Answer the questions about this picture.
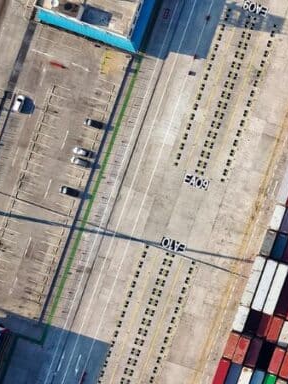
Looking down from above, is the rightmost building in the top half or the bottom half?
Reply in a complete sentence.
Seen from above, the rightmost building lies in the top half of the view.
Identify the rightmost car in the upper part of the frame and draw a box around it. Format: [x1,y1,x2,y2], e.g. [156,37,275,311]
[83,119,103,131]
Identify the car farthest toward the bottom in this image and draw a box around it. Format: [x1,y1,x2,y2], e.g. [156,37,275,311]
[59,185,78,197]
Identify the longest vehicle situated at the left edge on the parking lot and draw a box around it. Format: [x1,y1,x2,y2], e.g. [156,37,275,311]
[9,93,25,113]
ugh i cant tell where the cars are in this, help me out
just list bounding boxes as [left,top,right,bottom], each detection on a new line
[59,185,78,197]
[83,119,103,131]
[9,93,25,113]
[69,155,88,167]
[71,144,90,157]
